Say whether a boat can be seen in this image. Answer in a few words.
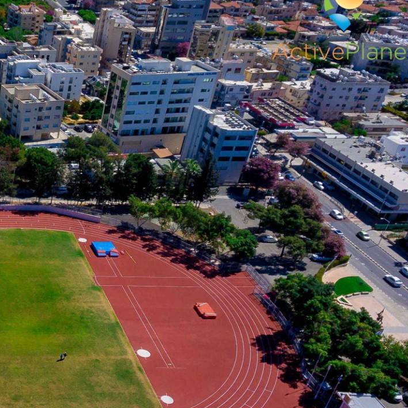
No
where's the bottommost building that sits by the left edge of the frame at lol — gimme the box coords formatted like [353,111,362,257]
[0,81,64,141]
